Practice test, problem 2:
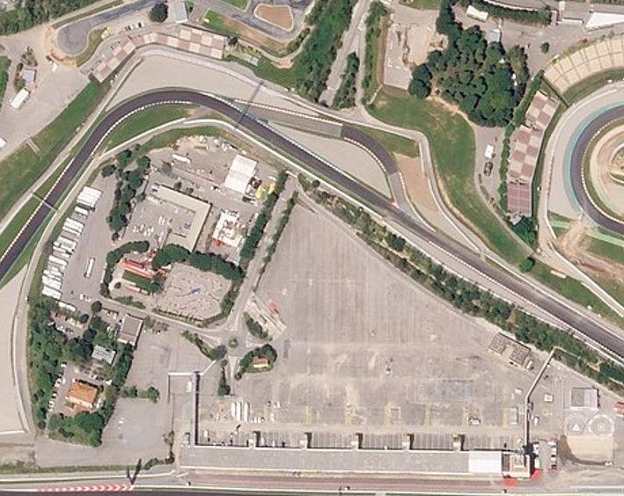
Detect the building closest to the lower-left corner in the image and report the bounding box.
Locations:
[68,381,99,418]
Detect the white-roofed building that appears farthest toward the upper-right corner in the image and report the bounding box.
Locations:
[587,12,624,30]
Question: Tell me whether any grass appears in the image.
Yes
